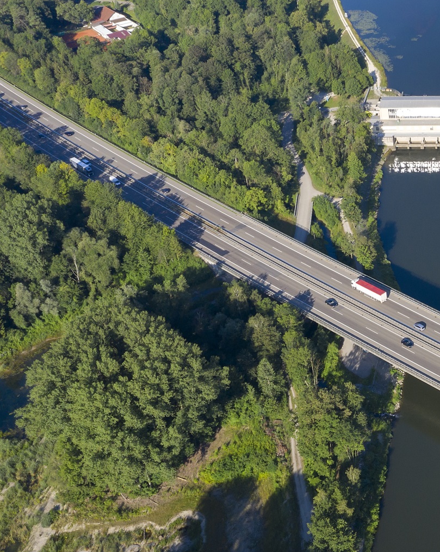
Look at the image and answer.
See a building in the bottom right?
No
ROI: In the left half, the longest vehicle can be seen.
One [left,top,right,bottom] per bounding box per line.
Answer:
[70,157,93,176]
